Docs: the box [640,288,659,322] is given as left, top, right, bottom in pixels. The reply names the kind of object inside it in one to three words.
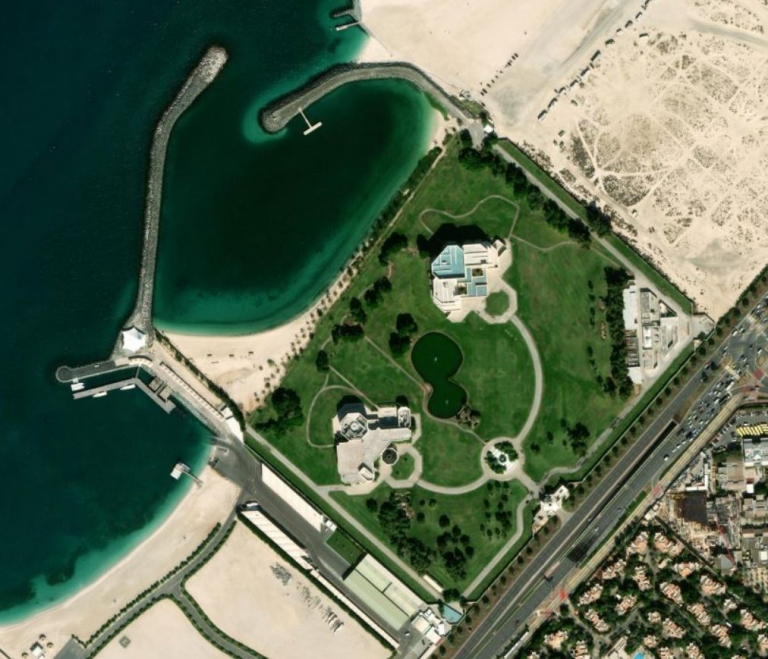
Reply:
building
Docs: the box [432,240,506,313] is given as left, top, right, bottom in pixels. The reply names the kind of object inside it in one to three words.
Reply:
building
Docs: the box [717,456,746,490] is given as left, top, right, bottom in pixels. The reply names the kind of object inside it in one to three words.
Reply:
house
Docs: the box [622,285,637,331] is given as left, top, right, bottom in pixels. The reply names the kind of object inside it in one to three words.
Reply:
shed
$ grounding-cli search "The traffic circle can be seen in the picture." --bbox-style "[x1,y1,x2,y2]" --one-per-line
[482,437,524,479]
